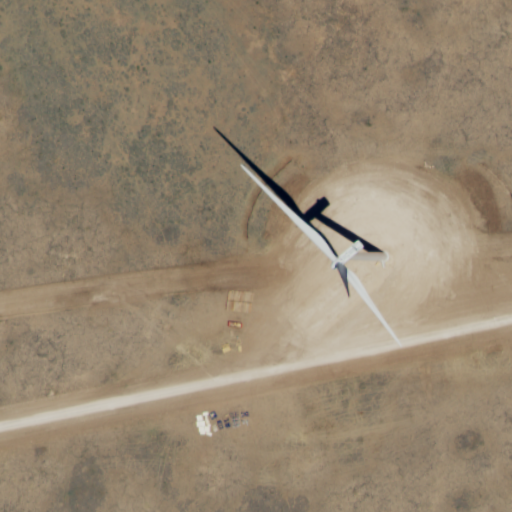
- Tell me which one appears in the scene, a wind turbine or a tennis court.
wind turbine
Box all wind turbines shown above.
[242,165,400,344]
